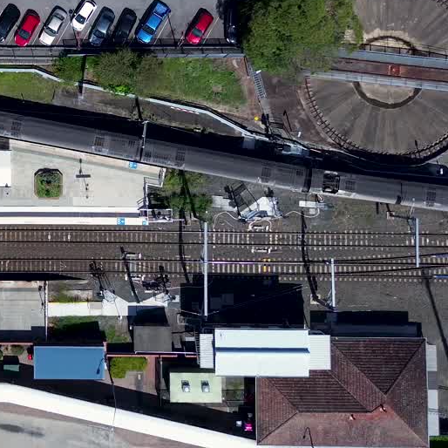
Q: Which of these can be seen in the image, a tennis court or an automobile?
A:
automobile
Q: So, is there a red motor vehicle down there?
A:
Yes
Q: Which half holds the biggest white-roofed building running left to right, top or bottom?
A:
bottom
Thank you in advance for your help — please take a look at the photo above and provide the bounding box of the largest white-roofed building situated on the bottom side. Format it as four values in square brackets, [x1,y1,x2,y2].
[192,318,330,376]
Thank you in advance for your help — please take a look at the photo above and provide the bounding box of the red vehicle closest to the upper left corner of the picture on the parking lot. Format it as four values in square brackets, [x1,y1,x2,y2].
[15,10,39,45]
